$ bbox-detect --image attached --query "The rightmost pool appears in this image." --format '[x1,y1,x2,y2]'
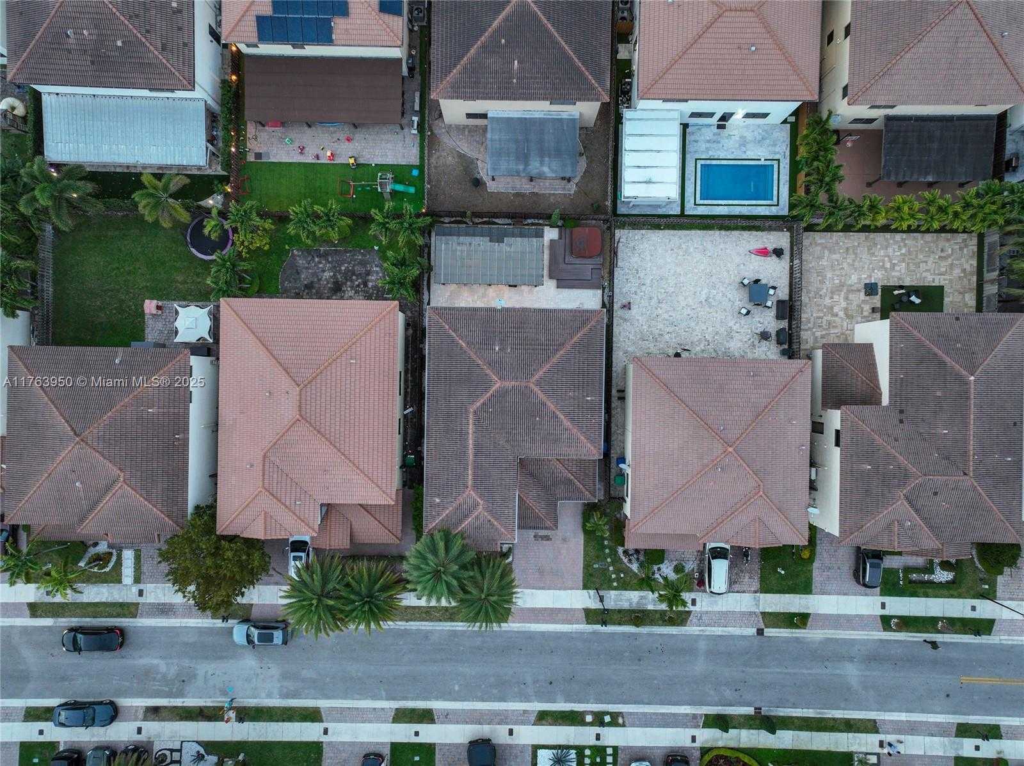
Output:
[695,158,780,206]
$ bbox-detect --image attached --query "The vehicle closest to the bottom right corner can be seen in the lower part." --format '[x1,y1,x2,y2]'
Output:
[852,546,883,588]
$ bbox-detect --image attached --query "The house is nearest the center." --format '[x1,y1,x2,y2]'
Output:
[423,305,606,551]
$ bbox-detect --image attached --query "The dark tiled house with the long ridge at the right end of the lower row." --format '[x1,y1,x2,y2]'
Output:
[811,311,1024,562]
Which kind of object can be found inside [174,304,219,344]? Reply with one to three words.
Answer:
tent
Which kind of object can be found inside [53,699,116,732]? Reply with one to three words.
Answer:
car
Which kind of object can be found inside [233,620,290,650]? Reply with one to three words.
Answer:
car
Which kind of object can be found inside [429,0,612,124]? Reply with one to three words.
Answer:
house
